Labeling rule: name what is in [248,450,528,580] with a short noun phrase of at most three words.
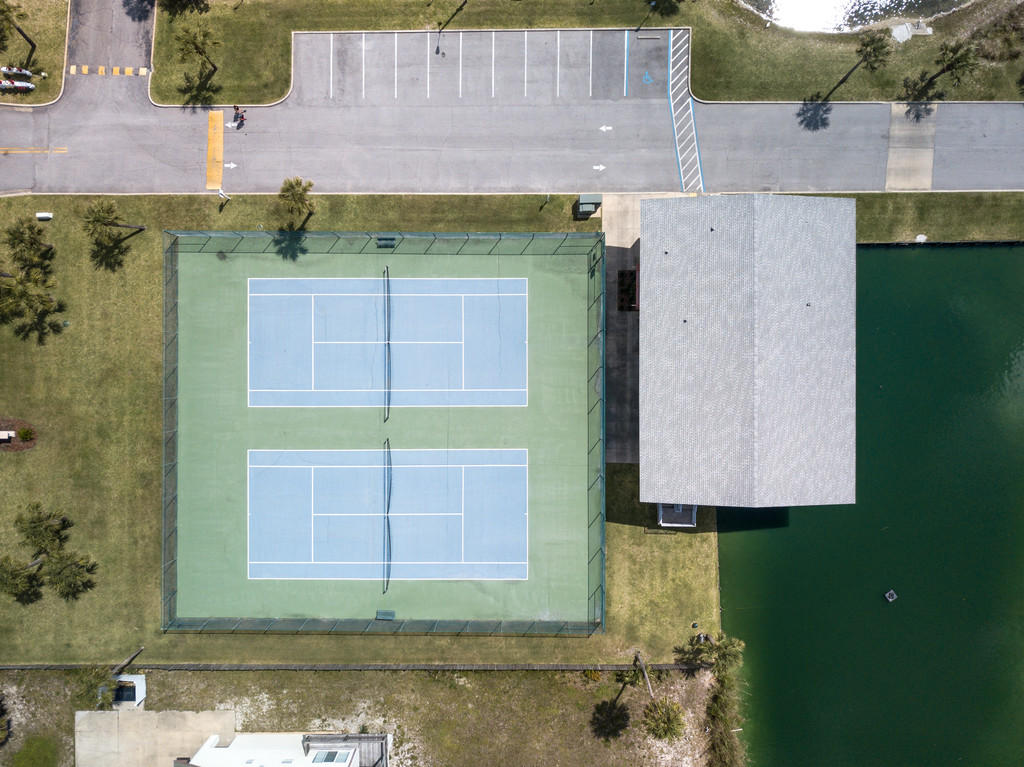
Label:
tennis court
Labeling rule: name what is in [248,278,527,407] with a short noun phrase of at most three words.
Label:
tennis court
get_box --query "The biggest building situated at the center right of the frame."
[639,194,857,526]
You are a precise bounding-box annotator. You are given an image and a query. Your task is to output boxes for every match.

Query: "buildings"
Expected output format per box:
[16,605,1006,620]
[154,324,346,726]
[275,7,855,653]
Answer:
[182,736,362,767]
[639,194,857,526]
